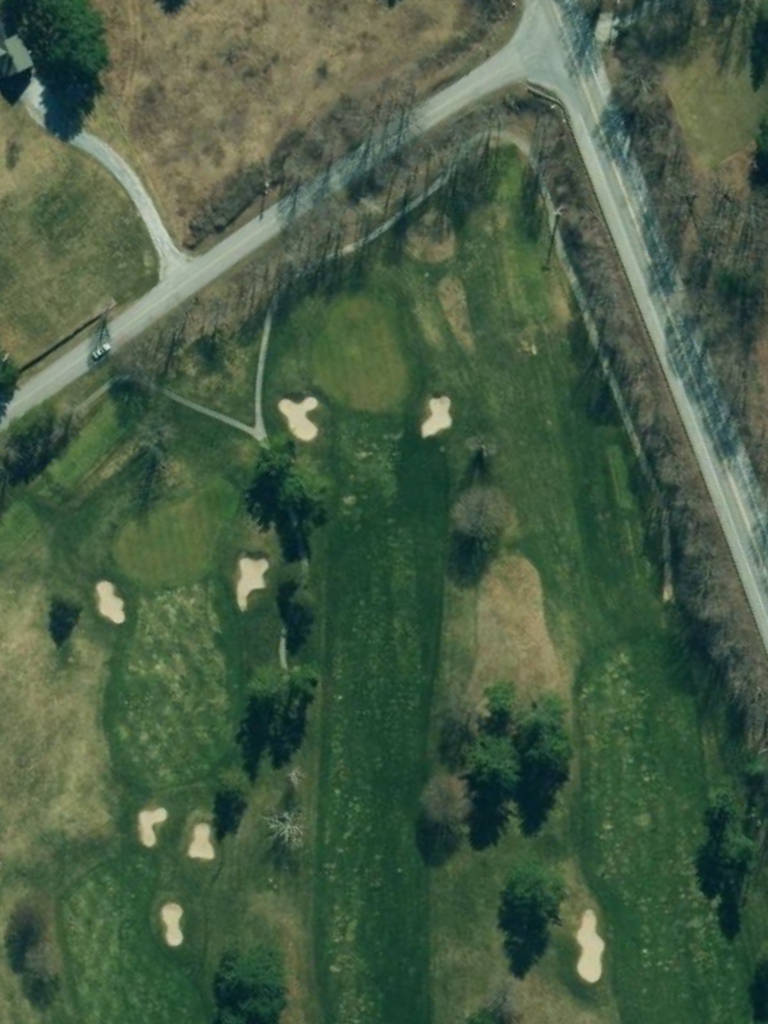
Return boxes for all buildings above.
[0,34,31,70]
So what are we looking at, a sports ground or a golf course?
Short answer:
golf course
